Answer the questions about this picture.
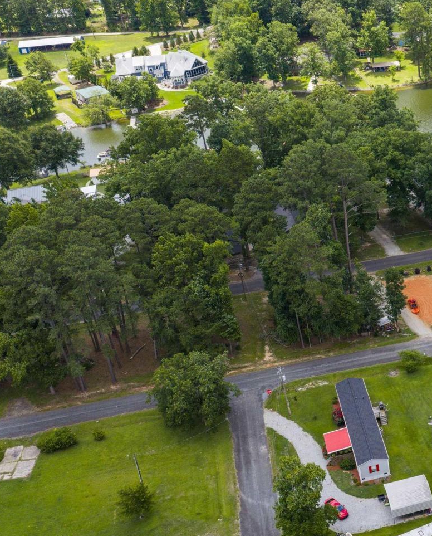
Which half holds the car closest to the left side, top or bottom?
bottom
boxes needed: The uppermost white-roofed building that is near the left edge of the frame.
[18,34,78,55]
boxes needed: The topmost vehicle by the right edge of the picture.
[406,298,421,316]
